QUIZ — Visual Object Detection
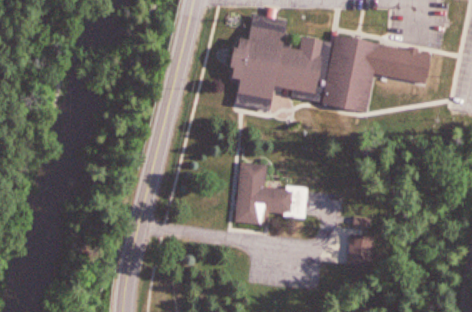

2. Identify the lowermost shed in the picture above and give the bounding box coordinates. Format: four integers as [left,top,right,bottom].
[348,237,374,262]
